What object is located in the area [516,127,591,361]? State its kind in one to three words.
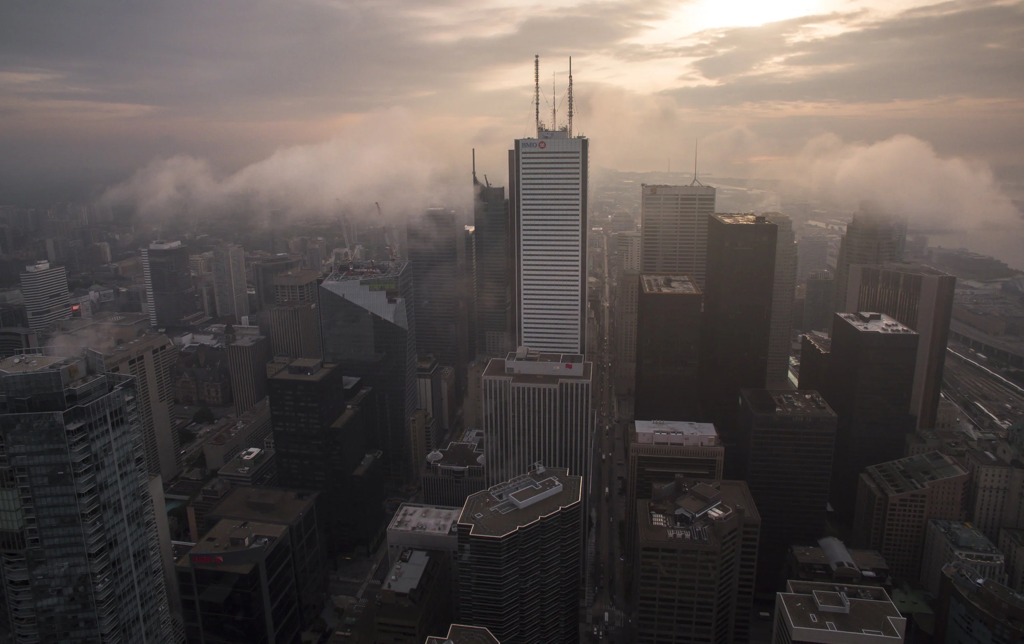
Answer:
building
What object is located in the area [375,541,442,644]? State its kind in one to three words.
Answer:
building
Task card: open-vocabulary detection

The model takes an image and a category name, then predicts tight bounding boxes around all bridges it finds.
[947,327,1024,368]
